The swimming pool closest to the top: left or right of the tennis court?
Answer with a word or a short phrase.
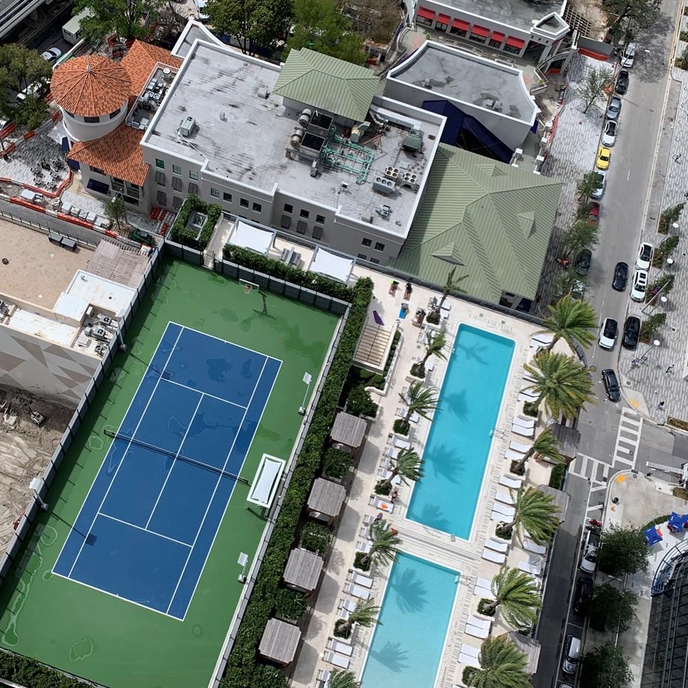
on its right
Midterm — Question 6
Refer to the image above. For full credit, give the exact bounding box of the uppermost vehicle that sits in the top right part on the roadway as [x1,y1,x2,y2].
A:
[620,41,639,67]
